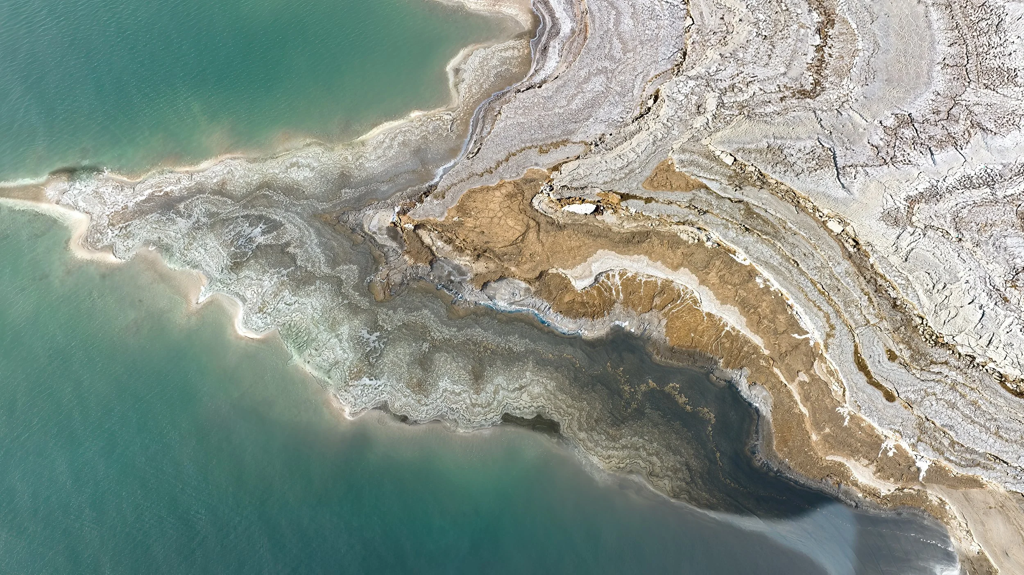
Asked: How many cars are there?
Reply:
none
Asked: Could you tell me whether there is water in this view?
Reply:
Yes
